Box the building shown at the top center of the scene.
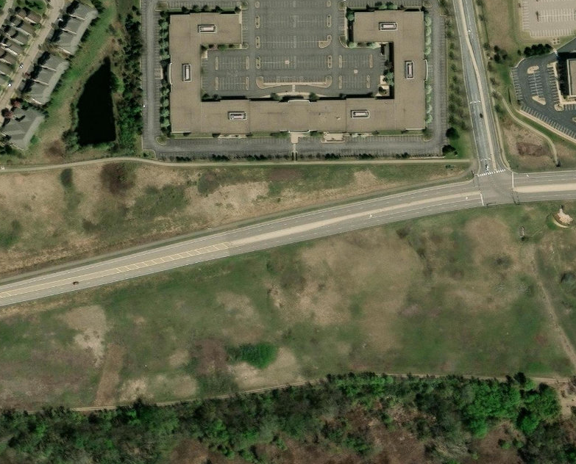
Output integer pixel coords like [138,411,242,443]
[169,10,427,134]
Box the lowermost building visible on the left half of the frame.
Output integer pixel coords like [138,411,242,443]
[2,108,45,148]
